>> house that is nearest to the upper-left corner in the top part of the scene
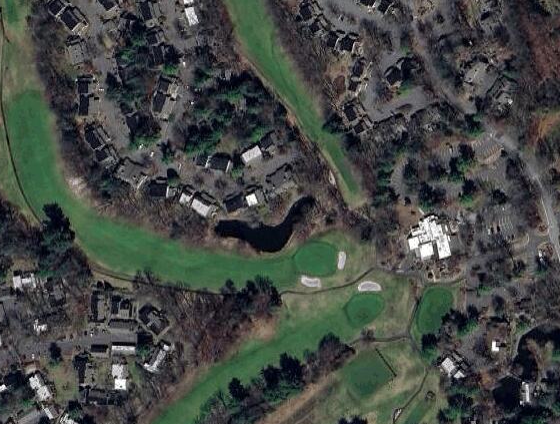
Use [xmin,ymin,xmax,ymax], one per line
[46,0,86,31]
